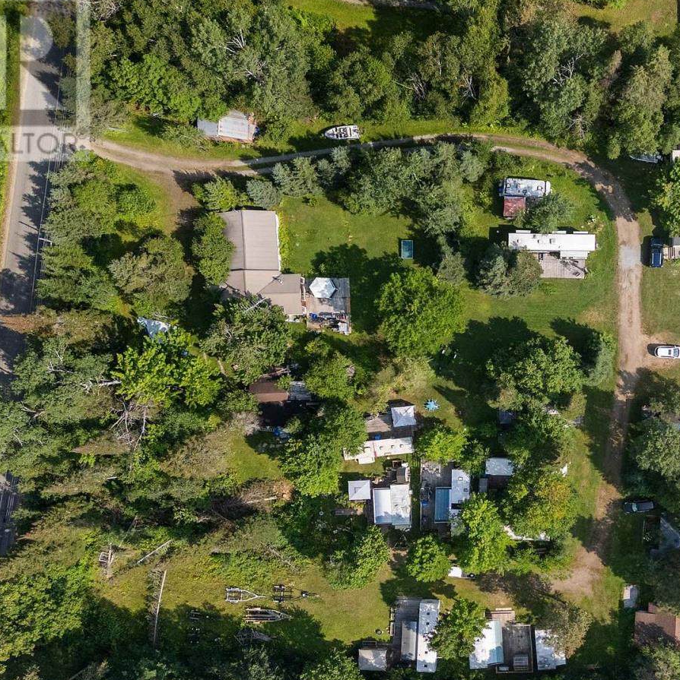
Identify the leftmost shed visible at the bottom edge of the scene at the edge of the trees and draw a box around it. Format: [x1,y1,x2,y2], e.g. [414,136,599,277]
[358,647,386,670]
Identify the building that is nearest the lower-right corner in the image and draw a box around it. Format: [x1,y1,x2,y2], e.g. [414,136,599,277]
[635,602,680,644]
